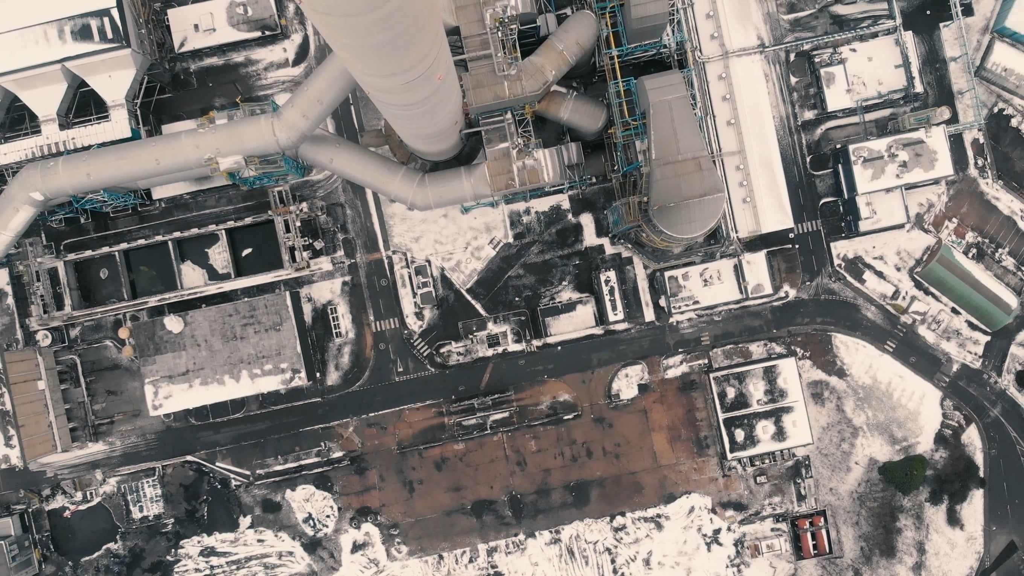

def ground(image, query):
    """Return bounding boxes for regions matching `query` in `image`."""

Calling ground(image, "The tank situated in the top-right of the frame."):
[782,56,812,84]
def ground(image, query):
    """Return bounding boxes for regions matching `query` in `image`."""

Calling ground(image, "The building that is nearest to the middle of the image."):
[598,268,624,322]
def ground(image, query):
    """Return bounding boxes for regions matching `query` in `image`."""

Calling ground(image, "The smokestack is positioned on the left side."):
[295,0,475,168]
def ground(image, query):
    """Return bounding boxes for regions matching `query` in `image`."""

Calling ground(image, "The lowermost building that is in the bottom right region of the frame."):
[746,534,790,558]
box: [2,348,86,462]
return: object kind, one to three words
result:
shed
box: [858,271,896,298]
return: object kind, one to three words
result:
building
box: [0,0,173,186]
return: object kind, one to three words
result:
house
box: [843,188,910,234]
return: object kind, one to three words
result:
building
